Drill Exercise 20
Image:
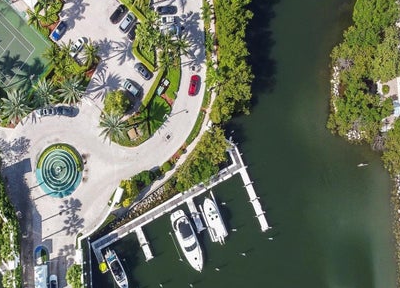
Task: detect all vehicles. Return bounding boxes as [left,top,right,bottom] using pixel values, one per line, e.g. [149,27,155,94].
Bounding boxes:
[156,3,178,17]
[68,37,88,59]
[118,11,138,36]
[49,20,69,43]
[108,2,129,27]
[48,275,58,288]
[186,74,201,97]
[159,14,179,26]
[153,77,171,99]
[120,76,142,99]
[125,23,144,44]
[55,104,76,119]
[36,106,56,118]
[132,61,153,82]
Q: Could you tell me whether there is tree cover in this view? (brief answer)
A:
Yes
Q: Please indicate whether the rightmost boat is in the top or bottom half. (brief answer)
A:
bottom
